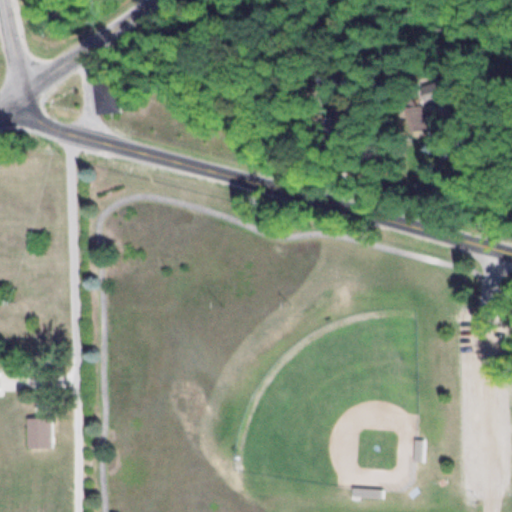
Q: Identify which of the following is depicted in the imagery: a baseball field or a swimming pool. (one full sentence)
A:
This aerial view contains a baseball field.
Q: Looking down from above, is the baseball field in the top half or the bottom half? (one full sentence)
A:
Seen from above, the baseball field lies in the bottom half of the view.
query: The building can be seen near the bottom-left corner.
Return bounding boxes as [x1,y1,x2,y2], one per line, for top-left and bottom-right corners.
[28,420,54,450]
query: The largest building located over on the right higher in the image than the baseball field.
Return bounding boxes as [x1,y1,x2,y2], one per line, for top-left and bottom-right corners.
[405,108,430,132]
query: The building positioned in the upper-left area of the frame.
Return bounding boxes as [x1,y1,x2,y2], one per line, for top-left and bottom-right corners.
[94,84,120,116]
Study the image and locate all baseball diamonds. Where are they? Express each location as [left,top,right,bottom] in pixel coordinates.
[240,310,417,492]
